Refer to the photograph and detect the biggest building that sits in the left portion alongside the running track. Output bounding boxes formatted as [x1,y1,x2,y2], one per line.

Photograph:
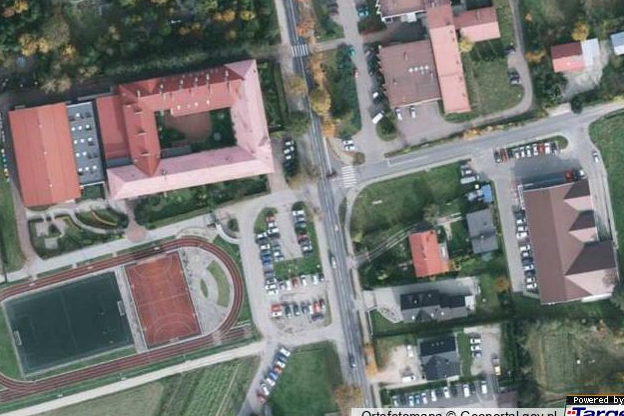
[106,59,274,200]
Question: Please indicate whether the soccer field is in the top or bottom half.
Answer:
bottom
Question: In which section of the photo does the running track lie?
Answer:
bottom left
